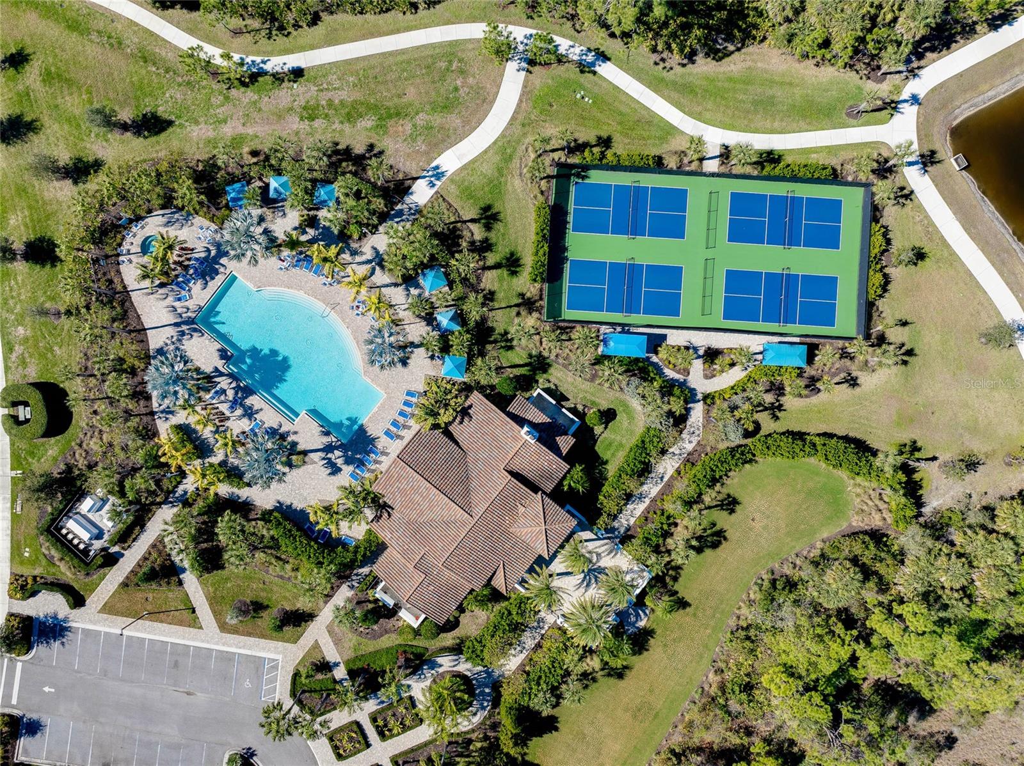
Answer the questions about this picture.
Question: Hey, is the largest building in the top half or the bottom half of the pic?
bottom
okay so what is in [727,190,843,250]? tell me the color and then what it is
blue sports court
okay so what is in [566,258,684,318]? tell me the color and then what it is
blue sports court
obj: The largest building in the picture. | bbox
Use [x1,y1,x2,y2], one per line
[369,390,580,630]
